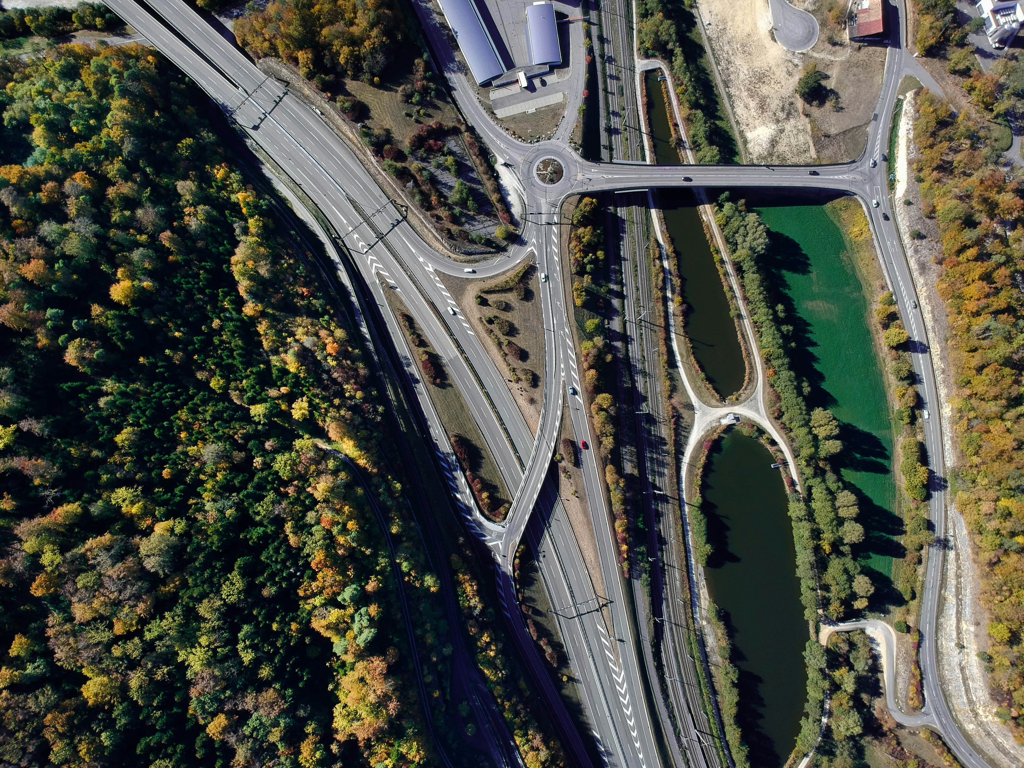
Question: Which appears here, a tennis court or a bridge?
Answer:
bridge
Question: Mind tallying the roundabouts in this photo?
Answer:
1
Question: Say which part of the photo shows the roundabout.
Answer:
top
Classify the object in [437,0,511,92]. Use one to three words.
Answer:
building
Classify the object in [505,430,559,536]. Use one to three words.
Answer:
bridge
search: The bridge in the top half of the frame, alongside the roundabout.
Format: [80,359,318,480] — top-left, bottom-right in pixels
[566,145,871,206]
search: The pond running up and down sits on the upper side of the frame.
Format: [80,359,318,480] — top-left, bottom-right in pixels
[646,68,746,399]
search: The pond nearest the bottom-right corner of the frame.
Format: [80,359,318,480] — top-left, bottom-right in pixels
[701,427,809,768]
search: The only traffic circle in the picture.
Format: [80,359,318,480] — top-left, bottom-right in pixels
[518,142,580,196]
